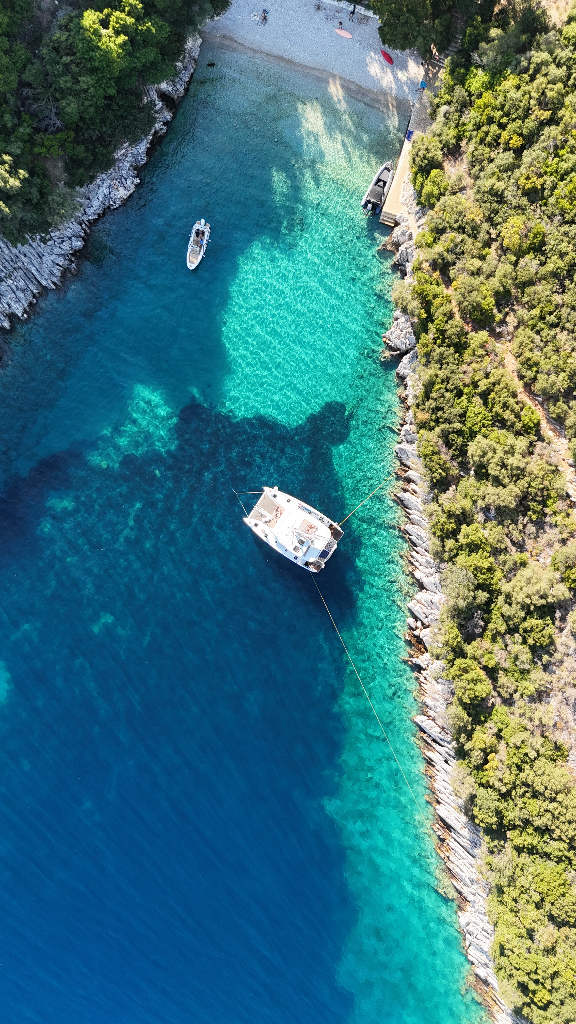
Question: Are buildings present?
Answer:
No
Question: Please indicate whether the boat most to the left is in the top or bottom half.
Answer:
top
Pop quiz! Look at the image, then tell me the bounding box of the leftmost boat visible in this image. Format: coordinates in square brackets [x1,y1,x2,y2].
[185,216,209,269]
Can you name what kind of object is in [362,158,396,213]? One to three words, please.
boat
